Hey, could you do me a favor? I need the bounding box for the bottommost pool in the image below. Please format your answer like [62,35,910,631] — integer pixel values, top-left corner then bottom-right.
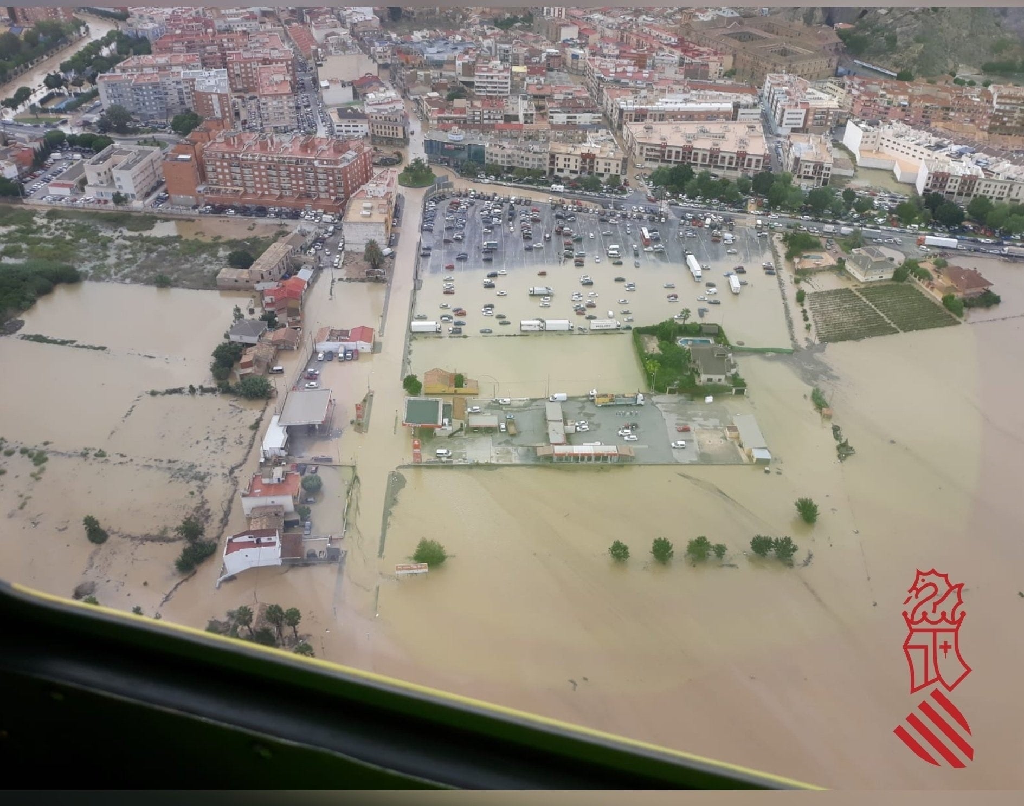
[680,335,716,349]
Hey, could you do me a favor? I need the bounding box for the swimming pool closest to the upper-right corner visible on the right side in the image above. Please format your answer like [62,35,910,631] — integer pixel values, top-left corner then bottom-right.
[795,249,837,267]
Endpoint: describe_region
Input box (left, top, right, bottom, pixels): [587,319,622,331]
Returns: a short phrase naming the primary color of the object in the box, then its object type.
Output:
white vehicle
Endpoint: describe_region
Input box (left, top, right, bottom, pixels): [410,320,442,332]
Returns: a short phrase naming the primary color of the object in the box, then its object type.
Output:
white vehicle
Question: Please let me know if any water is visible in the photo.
Yes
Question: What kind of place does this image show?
residential area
